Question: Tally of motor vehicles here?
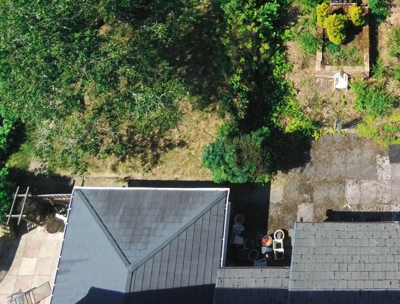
0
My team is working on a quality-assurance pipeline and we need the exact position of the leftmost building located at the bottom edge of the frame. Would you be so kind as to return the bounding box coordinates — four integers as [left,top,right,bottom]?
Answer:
[47,186,235,304]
